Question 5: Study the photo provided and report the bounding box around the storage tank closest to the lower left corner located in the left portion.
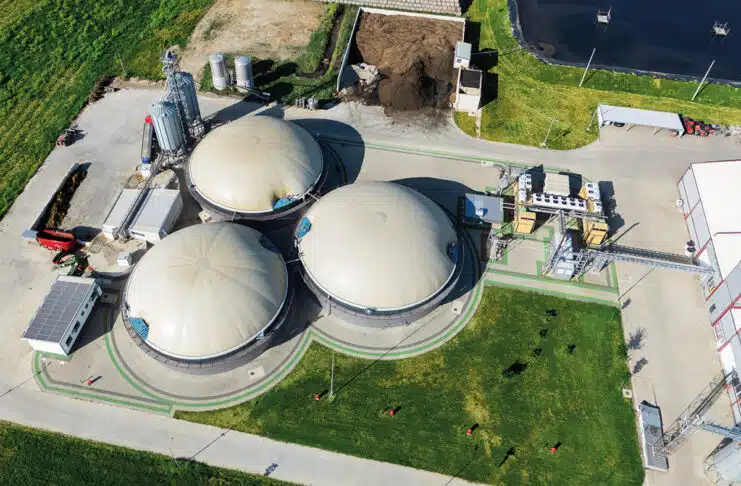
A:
[123,221,288,375]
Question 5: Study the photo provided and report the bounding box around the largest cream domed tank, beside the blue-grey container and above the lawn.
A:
[299,181,460,328]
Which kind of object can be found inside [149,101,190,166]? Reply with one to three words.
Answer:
silo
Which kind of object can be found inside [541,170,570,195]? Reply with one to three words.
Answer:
shed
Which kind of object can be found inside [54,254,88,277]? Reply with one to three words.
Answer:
work vehicle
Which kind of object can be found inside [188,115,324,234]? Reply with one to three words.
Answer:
storage tank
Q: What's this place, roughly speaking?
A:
industrial area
